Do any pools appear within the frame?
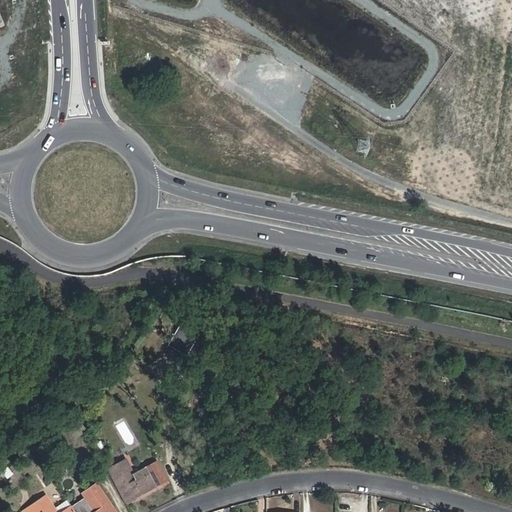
Yes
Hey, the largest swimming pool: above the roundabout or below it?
below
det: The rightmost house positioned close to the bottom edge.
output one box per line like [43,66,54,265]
[108,460,166,504]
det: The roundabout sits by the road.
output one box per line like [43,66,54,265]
[0,118,159,269]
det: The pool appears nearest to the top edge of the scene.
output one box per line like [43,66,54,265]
[114,418,140,454]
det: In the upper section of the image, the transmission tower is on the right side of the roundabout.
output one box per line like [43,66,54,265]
[356,136,372,154]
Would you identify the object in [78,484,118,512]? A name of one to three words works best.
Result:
house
